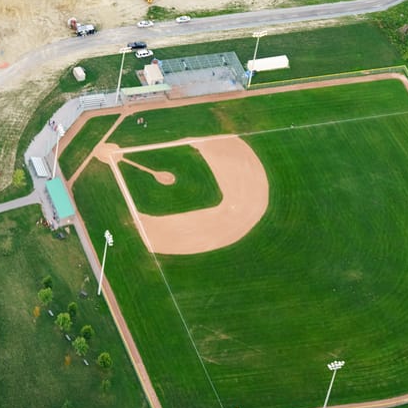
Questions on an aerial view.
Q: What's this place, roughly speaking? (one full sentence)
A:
This image shows a sports ground.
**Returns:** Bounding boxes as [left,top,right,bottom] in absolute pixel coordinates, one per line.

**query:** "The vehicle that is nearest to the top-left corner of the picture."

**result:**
[70,20,98,35]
